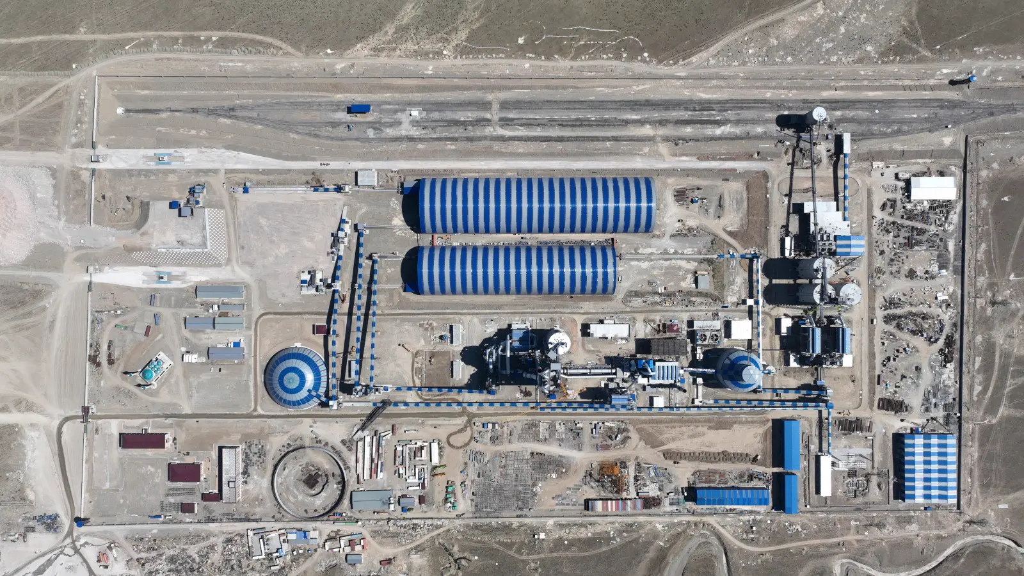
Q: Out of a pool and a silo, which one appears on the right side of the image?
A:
silo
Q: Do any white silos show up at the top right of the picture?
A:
Yes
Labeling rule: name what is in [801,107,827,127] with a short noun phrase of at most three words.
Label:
silo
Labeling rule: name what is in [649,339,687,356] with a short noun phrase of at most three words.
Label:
building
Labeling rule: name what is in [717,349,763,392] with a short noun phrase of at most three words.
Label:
silo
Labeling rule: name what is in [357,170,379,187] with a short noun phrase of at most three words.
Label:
house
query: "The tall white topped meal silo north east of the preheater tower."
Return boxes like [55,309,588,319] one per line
[545,328,571,355]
